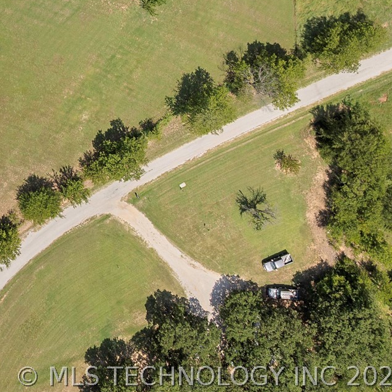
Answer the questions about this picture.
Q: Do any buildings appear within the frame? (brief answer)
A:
No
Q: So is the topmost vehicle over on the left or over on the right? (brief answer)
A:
right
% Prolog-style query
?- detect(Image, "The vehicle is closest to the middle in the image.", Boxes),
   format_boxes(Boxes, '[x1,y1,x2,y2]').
[262,251,293,271]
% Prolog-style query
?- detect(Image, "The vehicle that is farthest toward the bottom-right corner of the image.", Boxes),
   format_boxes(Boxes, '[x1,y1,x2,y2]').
[265,286,299,301]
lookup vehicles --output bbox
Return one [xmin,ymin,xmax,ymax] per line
[262,251,293,271]
[265,286,299,301]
